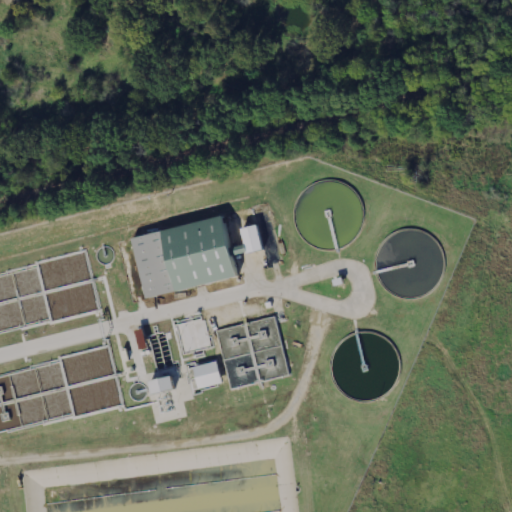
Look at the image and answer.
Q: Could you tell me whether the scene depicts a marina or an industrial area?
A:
industrial area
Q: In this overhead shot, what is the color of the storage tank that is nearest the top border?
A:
green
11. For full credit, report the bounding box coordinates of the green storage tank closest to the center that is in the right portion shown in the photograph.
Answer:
[294,180,365,254]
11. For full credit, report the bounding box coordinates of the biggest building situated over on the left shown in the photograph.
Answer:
[129,214,238,299]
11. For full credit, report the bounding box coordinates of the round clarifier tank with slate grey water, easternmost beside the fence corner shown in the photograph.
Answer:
[374,229,446,298]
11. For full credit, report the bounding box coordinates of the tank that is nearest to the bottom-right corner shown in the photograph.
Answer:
[332,330,400,401]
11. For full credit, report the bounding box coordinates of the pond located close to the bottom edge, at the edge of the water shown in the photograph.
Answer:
[23,436,300,512]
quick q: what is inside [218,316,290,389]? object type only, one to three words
storage tank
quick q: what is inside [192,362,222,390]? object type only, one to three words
building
